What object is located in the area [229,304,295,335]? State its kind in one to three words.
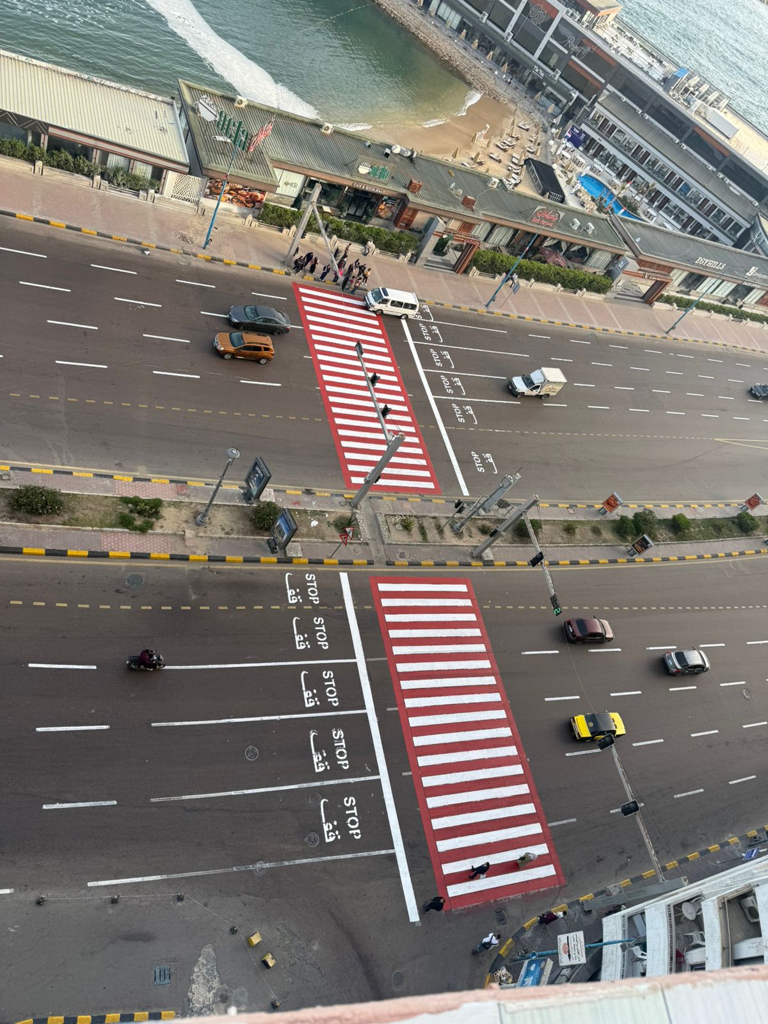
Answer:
car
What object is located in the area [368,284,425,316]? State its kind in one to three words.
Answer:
vehicle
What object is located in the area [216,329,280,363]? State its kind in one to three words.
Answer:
car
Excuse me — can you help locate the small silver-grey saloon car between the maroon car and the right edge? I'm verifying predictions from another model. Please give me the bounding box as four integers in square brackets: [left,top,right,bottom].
[663,646,714,675]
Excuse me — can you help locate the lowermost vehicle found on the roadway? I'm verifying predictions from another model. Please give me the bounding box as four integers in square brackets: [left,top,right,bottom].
[569,705,630,740]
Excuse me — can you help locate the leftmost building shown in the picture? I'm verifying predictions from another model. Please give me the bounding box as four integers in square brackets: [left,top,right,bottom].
[0,49,191,199]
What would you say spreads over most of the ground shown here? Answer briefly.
paved ground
